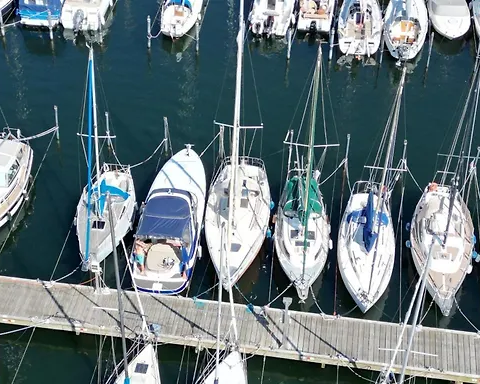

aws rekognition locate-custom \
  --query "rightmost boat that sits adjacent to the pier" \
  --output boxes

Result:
[409,34,480,318]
